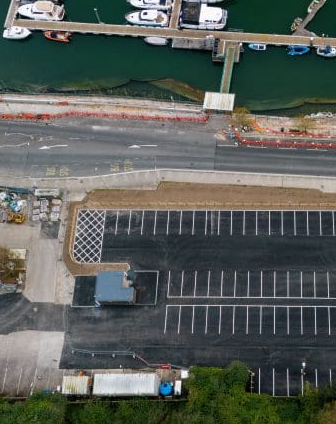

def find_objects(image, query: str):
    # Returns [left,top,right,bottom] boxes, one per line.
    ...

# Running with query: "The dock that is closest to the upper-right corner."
[292,0,326,37]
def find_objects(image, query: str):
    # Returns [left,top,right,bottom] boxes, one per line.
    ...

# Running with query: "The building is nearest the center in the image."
[95,271,137,301]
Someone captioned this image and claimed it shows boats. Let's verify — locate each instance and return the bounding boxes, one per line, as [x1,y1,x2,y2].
[15,1,67,21]
[143,35,167,43]
[292,16,304,31]
[308,0,320,13]
[128,0,172,9]
[43,31,72,43]
[248,43,267,51]
[287,45,311,56]
[315,46,336,57]
[123,9,170,26]
[181,1,228,28]
[0,27,32,39]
